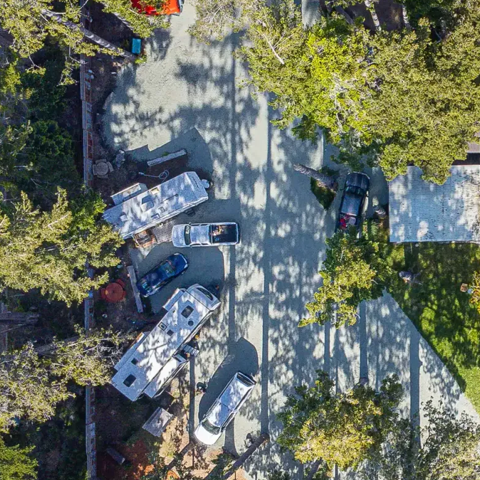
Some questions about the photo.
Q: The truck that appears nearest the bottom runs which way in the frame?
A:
on a diagonal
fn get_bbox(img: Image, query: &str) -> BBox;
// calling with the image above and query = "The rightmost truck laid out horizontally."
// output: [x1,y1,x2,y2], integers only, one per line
[173,220,241,248]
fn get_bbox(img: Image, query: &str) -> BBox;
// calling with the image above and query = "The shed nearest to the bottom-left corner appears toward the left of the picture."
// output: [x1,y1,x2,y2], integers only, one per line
[136,406,172,441]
